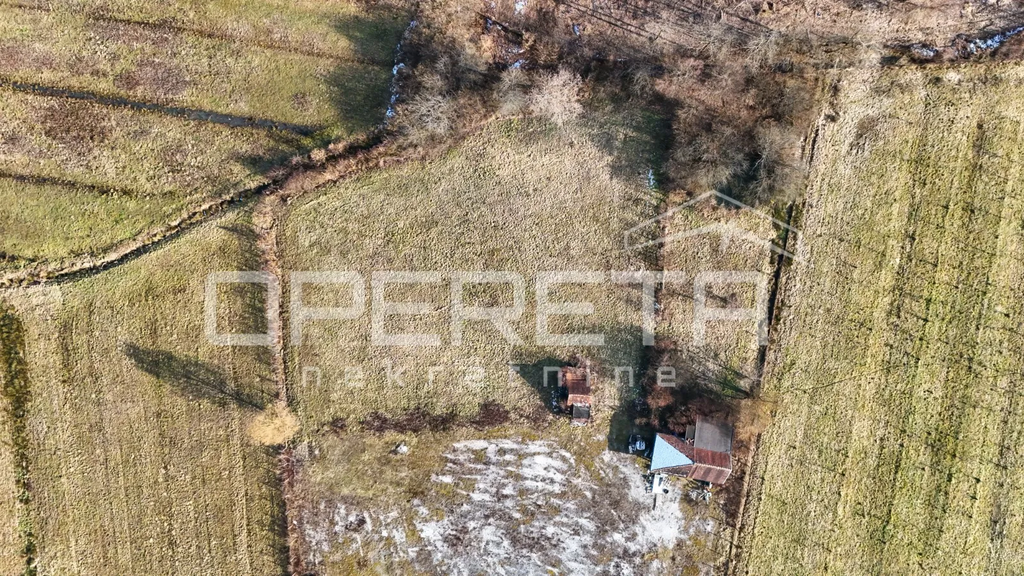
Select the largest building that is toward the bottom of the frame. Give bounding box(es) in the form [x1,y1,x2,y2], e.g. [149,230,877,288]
[650,414,734,485]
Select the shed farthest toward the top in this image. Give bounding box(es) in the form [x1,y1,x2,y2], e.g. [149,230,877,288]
[566,366,592,406]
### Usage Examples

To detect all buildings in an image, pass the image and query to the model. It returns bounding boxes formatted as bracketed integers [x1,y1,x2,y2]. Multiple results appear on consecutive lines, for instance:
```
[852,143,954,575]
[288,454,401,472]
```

[566,366,592,406]
[650,414,734,485]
